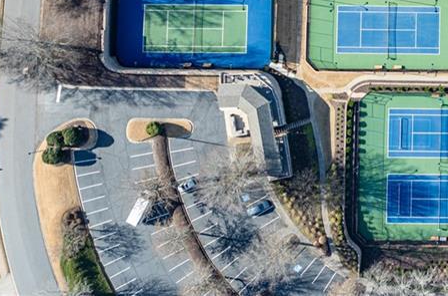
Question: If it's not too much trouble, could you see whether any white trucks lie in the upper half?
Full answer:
No, in the upper half there is no white truck.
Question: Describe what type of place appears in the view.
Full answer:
The picture captures a sports ground.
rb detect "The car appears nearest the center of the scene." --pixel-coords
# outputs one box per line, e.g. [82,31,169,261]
[177,177,198,192]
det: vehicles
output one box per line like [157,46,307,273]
[121,198,147,230]
[249,202,271,215]
[177,177,198,192]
